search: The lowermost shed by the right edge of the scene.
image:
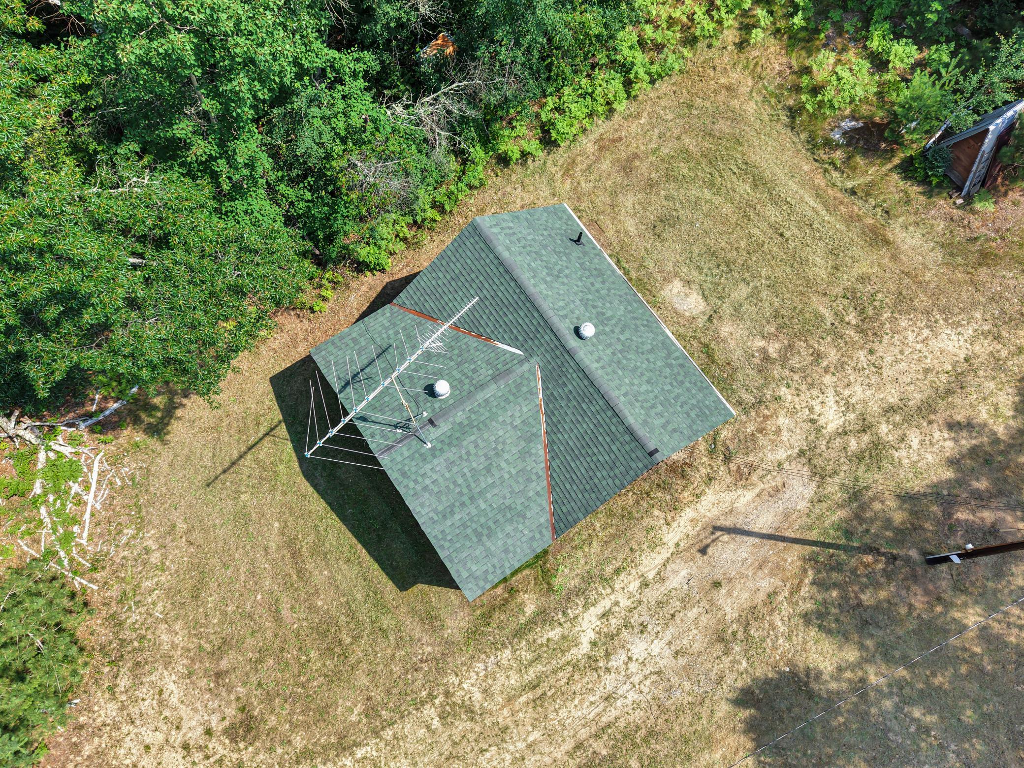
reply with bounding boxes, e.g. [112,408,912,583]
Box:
[919,103,1024,199]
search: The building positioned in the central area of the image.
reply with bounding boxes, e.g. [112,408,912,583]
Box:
[311,201,738,601]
